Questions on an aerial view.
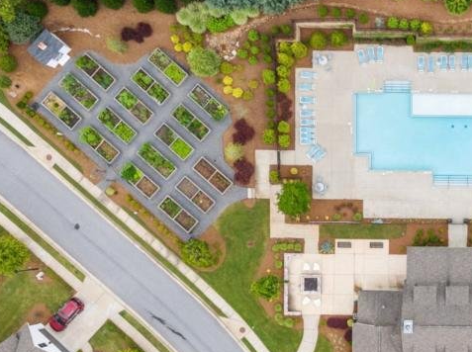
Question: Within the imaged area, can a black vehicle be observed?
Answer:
No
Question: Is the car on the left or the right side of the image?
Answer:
left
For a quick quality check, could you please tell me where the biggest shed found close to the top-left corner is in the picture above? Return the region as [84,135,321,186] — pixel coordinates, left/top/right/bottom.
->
[20,23,70,75]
